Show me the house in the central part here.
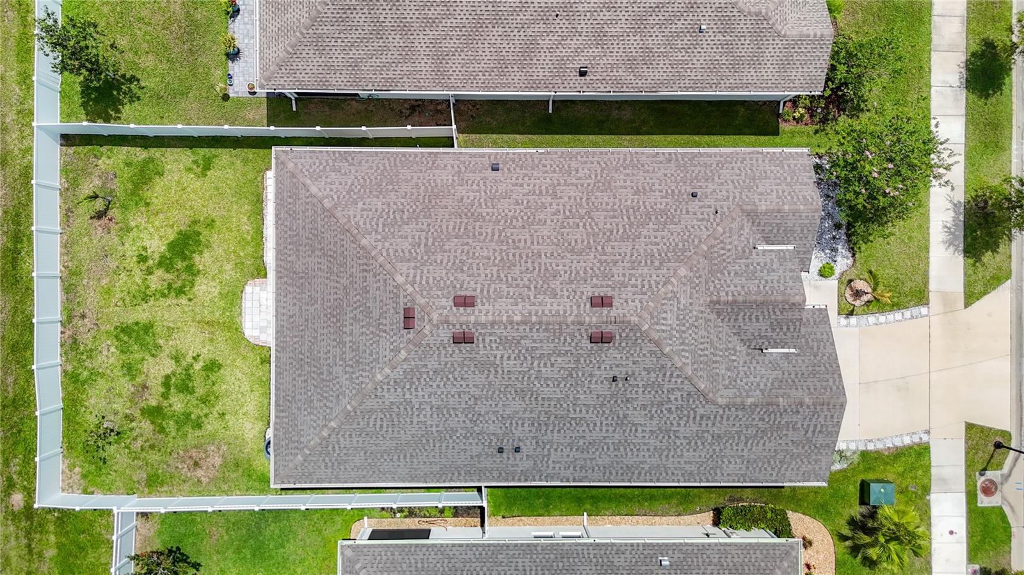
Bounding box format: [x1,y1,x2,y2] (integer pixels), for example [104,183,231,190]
[271,147,846,489]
